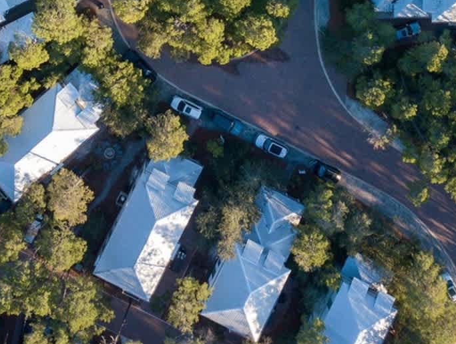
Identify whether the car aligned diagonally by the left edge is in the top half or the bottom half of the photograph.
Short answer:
bottom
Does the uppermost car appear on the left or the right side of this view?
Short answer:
right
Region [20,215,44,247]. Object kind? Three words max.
car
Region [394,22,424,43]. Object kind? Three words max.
car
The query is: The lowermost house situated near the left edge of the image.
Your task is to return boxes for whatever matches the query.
[0,70,107,204]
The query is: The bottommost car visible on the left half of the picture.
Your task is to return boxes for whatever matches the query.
[170,242,191,273]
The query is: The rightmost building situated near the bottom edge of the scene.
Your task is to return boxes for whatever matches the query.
[297,252,398,344]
